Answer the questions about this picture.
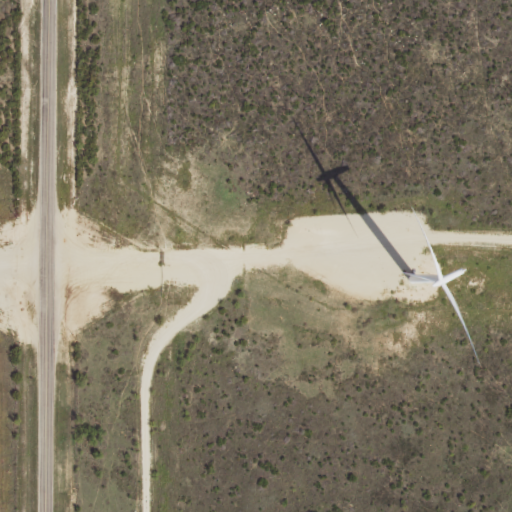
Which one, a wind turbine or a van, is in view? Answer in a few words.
wind turbine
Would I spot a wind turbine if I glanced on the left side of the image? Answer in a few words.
No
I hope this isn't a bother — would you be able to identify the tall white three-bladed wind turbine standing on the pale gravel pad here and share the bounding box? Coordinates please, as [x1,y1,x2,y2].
[404,212,483,364]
